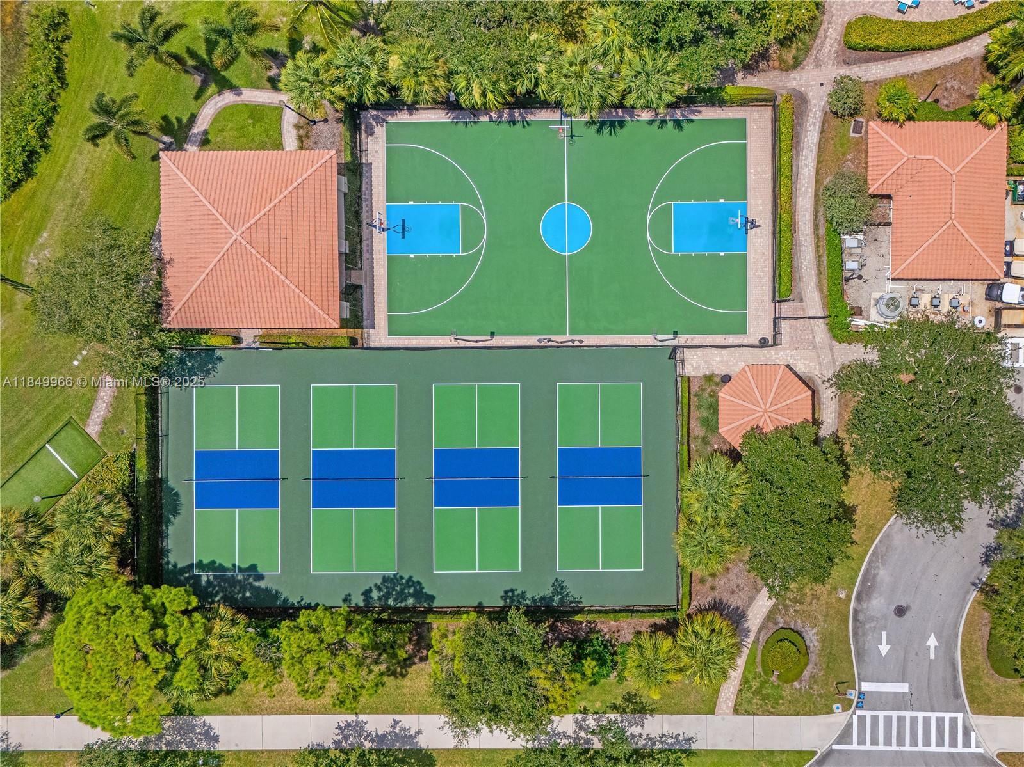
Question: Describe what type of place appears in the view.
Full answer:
The area seen from above is a sports ground.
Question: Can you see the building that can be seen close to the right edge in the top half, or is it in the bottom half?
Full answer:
It is in the top half that the building that can be seen close to the right edge appears.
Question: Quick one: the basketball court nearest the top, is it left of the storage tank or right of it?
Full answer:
Looking at the photo, the basketball court nearest the top lies to the left of the storage tank.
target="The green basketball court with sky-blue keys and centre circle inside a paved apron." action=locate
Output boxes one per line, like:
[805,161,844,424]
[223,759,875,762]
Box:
[385,118,747,336]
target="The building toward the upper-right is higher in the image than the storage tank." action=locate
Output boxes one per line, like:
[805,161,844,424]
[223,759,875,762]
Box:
[866,119,1008,281]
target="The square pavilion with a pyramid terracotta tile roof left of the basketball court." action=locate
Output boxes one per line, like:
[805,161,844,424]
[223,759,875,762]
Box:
[159,148,350,330]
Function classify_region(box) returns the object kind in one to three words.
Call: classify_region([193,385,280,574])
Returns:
sports court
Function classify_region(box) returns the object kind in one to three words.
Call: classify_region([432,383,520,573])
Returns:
sports court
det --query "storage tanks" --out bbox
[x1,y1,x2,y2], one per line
[872,292,904,320]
